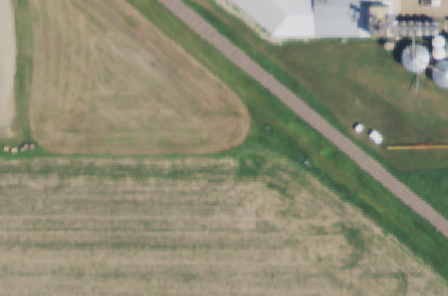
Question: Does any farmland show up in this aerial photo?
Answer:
Yes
